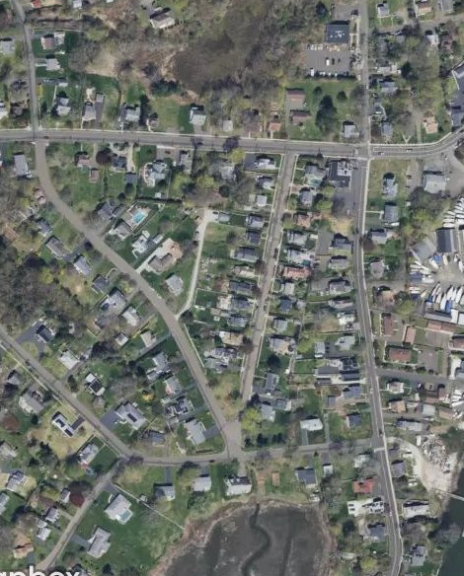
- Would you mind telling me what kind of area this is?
residential area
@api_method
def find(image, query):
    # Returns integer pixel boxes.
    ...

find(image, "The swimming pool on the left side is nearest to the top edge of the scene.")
[130,209,147,226]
